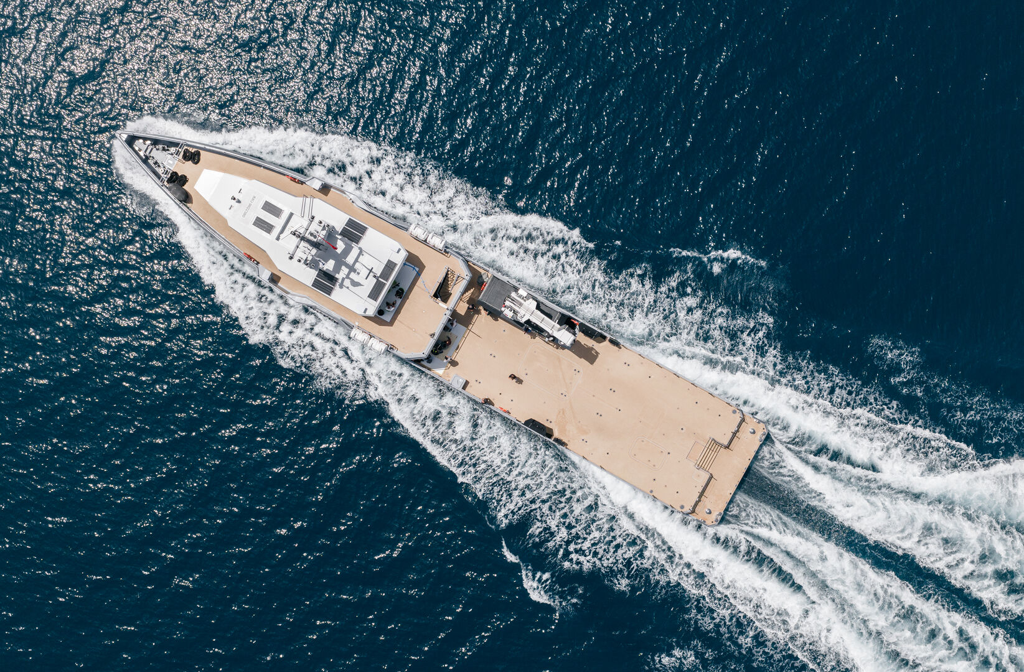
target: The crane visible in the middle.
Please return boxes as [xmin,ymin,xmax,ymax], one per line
[502,289,579,348]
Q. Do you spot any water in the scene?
Yes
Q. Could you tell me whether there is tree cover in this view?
No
